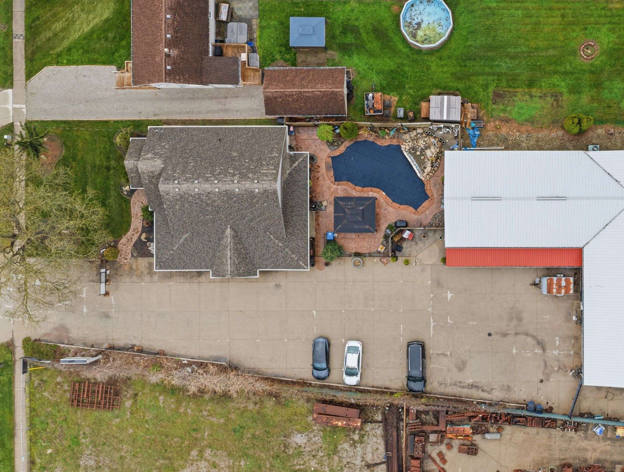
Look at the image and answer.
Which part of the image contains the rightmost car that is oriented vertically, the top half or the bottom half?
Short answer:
bottom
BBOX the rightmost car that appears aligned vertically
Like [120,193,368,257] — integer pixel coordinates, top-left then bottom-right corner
[405,341,428,391]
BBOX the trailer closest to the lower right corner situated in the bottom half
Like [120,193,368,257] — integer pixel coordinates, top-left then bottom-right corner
[530,274,573,296]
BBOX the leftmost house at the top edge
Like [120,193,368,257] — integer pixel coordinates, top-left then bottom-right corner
[130,0,245,88]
